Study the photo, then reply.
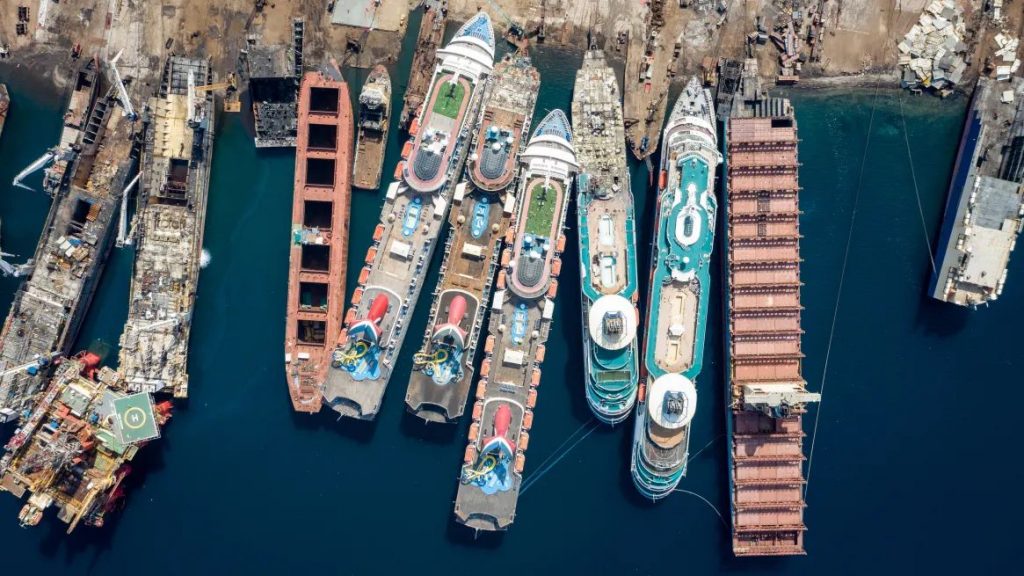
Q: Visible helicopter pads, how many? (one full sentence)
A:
In total, 1 helicopter pad can be seen.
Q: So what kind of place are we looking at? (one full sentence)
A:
This looks like a port.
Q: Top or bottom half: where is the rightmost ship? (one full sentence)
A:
The rightmost ship is in the top half of the image.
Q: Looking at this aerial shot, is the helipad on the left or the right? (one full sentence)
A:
The helipad appears in the left half of the scene.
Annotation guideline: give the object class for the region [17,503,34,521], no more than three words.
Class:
boat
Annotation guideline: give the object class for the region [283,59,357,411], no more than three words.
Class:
ship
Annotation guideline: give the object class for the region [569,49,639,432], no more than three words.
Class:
ship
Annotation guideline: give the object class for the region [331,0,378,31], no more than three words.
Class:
shed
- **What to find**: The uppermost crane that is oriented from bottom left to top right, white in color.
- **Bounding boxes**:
[13,148,67,192]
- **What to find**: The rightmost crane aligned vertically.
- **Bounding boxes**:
[184,68,199,129]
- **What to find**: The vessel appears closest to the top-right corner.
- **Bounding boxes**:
[926,77,1024,306]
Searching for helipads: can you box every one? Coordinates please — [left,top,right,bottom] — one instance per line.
[111,389,165,446]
